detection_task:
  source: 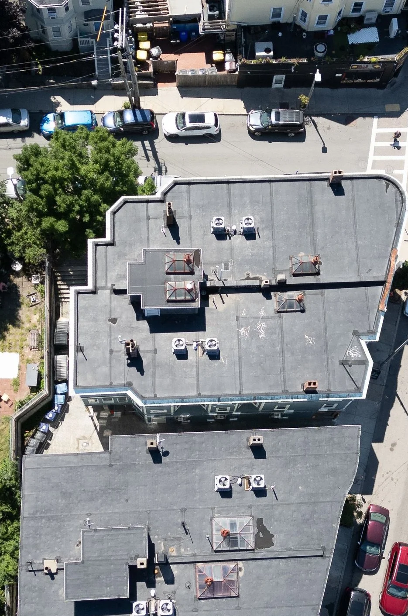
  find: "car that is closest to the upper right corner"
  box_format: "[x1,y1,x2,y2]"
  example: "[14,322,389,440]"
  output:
[243,108,309,142]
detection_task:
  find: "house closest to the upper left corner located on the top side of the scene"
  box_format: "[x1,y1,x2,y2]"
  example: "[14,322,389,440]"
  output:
[13,0,114,59]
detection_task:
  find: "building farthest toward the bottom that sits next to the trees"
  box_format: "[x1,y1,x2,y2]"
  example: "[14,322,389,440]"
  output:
[17,424,361,616]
